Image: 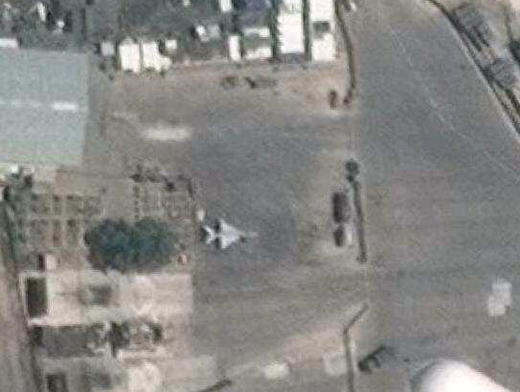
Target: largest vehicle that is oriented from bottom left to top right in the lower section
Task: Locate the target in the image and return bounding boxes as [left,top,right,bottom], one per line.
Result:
[360,346,387,370]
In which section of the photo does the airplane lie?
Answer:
center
